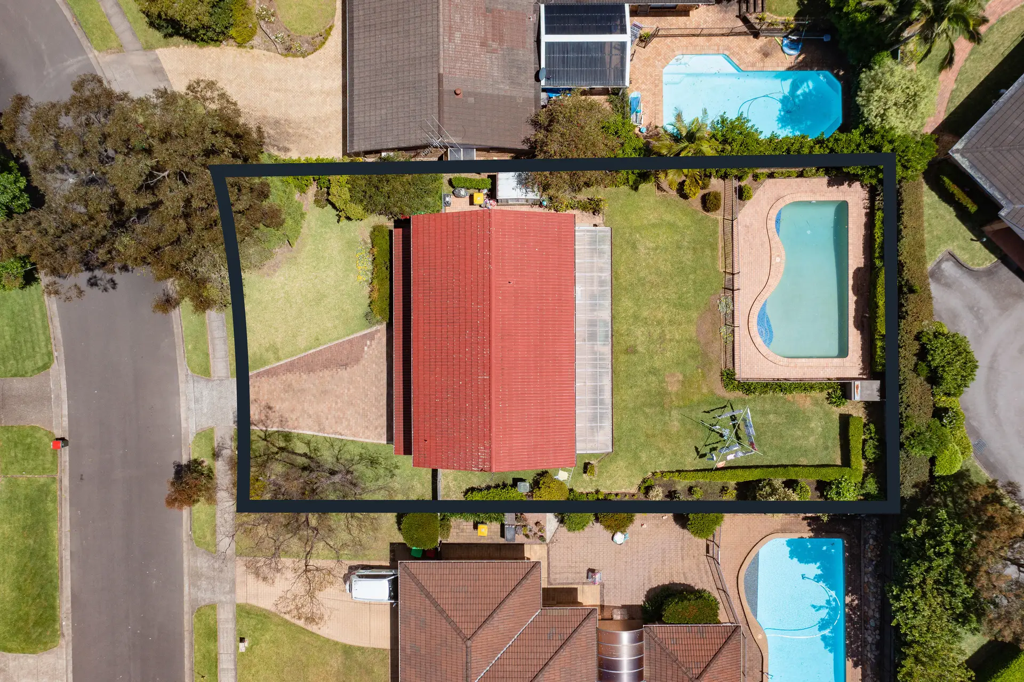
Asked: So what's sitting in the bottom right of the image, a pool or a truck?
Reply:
pool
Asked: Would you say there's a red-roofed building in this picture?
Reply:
Yes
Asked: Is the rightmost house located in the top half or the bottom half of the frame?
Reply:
top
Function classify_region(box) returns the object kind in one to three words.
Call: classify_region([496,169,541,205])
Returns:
shed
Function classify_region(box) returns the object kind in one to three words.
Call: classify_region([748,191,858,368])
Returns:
swimming pool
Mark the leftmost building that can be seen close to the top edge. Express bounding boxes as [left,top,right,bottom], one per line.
[345,0,541,166]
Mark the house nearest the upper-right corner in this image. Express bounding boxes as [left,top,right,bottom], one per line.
[940,69,1024,253]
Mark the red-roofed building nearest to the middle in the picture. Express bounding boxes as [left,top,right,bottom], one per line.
[391,208,578,473]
